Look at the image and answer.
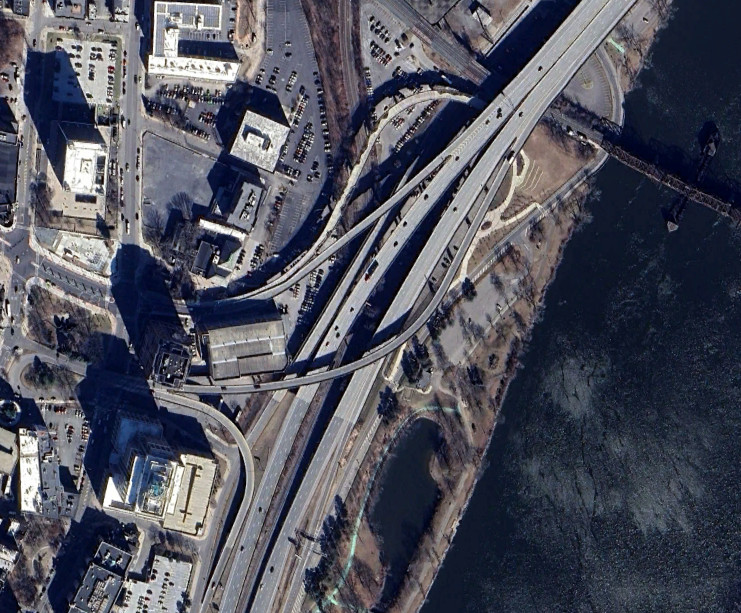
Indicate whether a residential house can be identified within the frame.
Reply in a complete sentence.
Yes, the frame does contain a residential house.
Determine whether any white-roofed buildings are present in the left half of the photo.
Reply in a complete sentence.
Yes, you'll find a white-roofed building in the left half of the photo.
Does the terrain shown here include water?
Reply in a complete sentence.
Yes, there is water in the image.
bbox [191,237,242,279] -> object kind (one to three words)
house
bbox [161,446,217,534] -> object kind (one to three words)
building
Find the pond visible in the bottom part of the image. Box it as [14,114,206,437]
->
[371,418,441,613]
